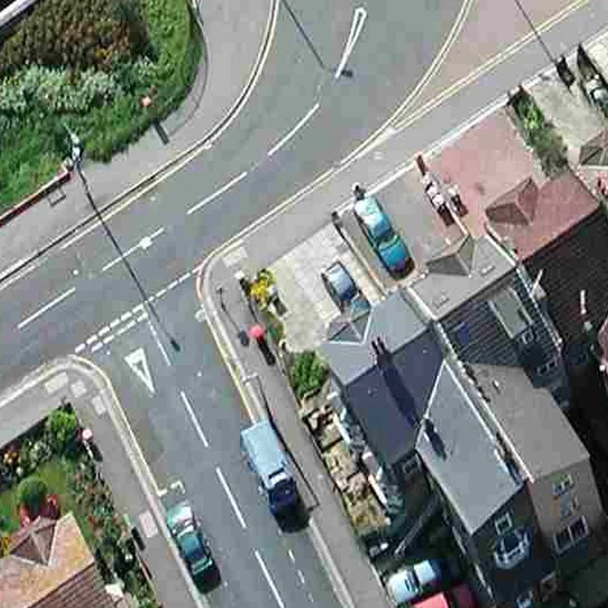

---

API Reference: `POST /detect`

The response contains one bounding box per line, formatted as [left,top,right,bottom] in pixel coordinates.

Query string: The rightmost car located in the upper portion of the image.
[357,200,410,274]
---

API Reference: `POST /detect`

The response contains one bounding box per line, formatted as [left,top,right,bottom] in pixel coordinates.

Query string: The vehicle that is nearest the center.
[327,265,375,314]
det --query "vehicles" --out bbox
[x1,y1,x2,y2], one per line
[327,265,375,314]
[164,508,216,582]
[235,418,296,514]
[392,555,467,607]
[357,200,410,274]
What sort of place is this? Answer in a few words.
residential area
